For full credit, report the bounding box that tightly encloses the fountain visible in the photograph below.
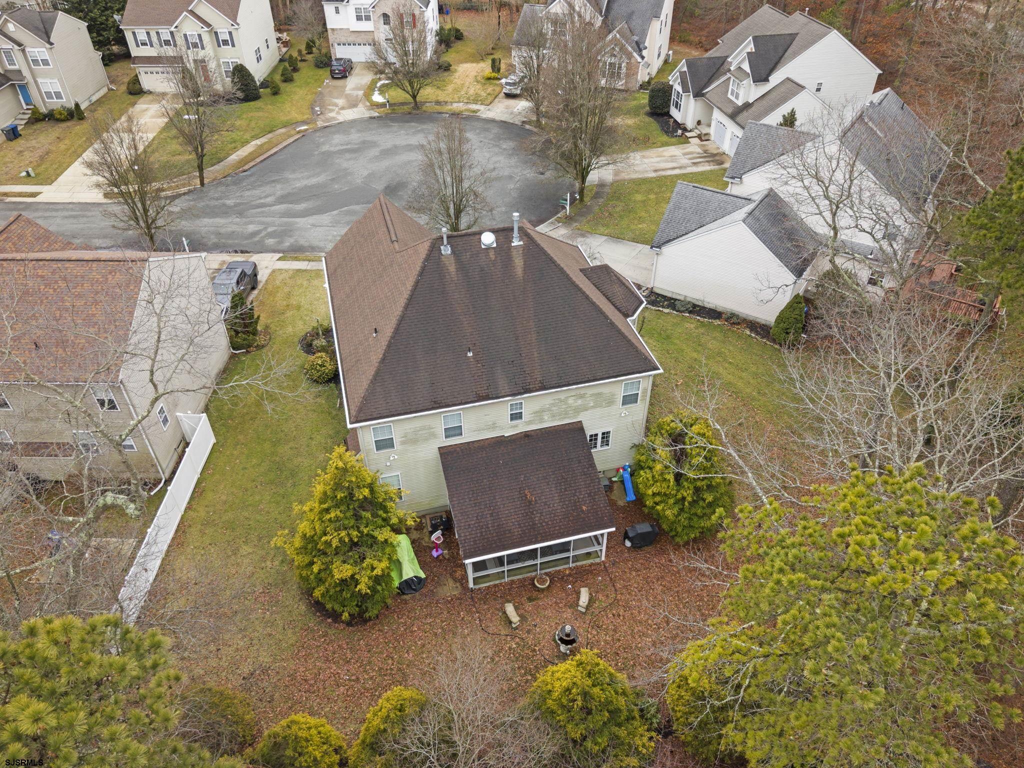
[552,621,581,657]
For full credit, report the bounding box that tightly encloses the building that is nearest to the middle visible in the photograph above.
[323,196,667,594]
